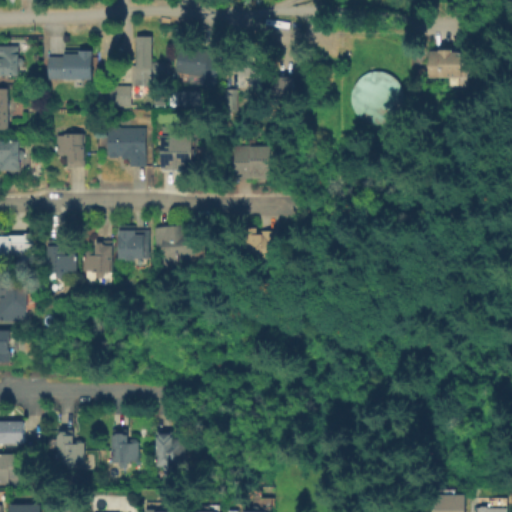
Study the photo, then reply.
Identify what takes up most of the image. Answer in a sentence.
The scene is dominated by trees.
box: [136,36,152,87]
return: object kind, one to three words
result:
house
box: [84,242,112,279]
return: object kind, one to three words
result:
house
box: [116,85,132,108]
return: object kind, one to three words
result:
building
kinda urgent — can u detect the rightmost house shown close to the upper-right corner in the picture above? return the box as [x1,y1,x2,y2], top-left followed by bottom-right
[428,50,462,78]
